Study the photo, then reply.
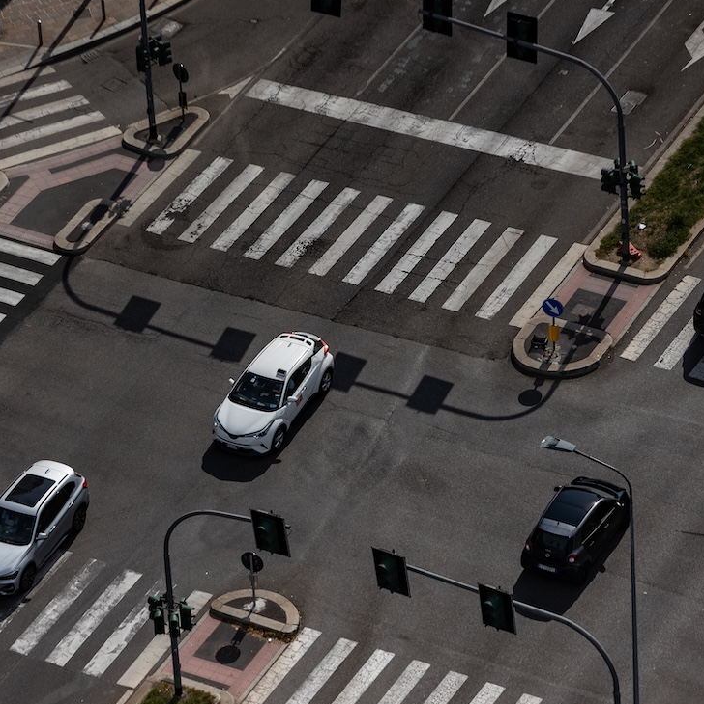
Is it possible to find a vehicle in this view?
Yes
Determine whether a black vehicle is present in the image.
Yes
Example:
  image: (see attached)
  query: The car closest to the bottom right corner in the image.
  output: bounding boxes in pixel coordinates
[518,472,628,578]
